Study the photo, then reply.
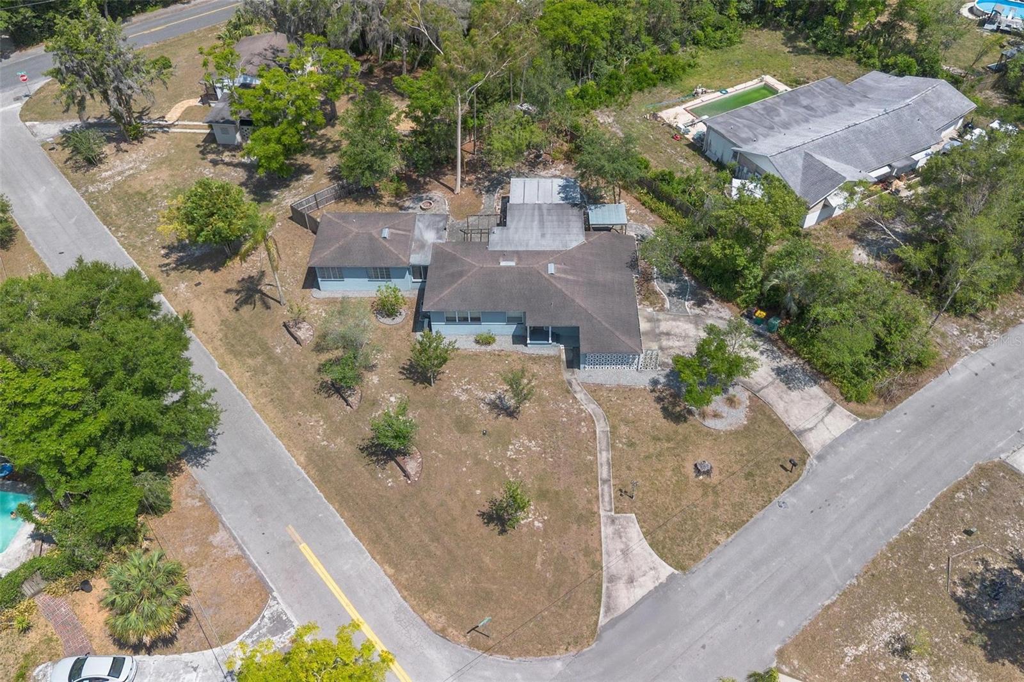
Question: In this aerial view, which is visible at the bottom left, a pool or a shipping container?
pool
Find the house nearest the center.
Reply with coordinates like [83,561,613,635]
[308,178,658,369]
